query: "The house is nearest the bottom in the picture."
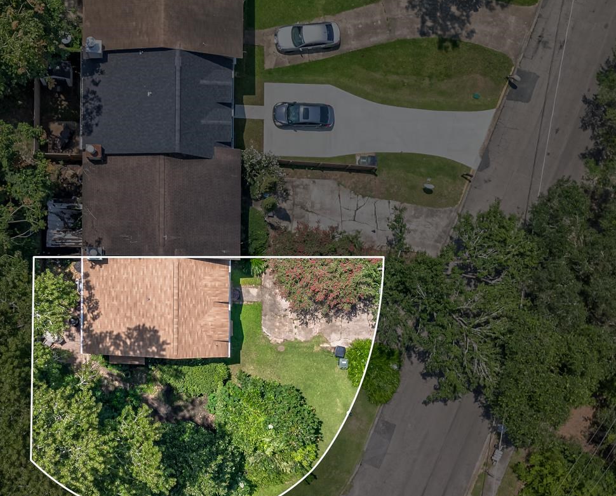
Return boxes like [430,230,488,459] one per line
[79,246,245,366]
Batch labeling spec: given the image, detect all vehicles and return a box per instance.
[273,98,336,130]
[274,20,342,54]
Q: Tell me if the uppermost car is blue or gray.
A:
gray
